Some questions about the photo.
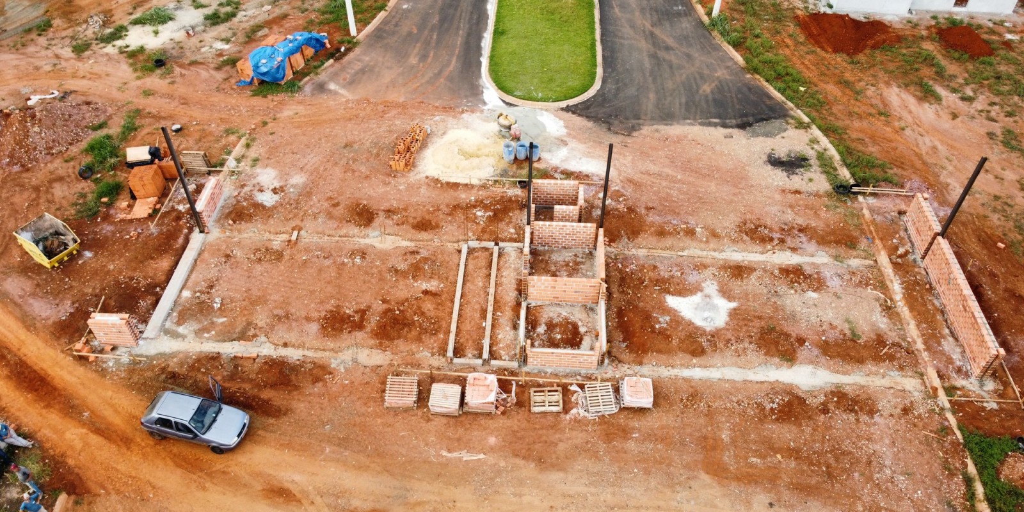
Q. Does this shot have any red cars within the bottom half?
No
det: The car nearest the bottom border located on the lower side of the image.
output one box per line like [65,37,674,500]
[142,382,248,454]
